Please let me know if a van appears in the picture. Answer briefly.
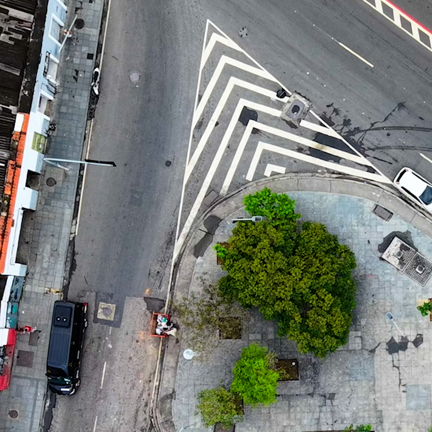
Yes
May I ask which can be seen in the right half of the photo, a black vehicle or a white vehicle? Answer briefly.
white vehicle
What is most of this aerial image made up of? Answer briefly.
paved ground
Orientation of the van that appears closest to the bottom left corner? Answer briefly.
from top to bottom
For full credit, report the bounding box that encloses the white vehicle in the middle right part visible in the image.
[392,165,432,213]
